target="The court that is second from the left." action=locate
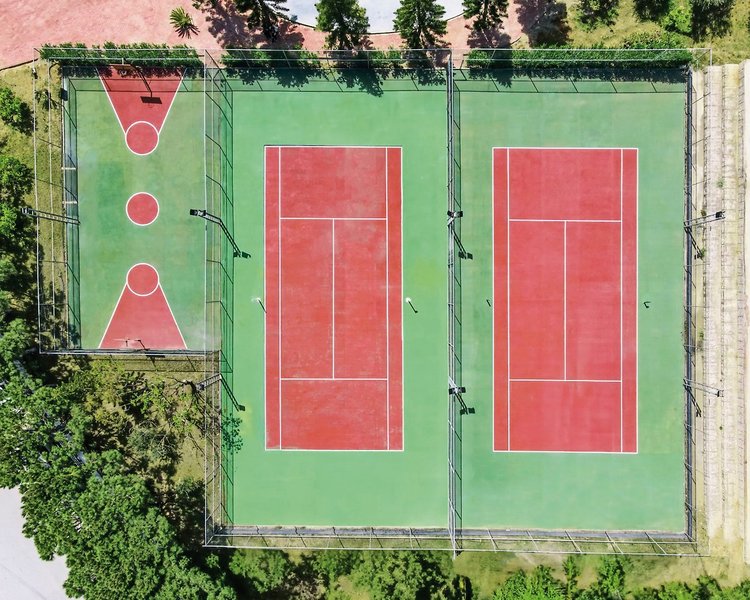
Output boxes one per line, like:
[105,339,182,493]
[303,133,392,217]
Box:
[222,69,448,529]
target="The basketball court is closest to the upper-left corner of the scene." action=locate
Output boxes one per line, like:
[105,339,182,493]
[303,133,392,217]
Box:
[63,68,221,351]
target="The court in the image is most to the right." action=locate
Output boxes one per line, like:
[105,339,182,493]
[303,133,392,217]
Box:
[448,68,685,533]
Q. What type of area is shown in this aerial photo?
sports ground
